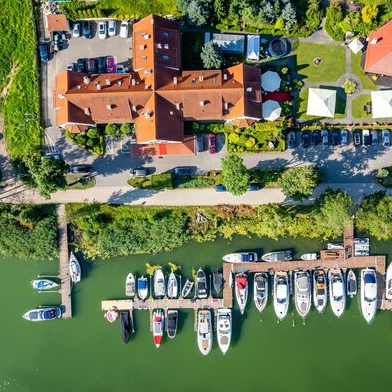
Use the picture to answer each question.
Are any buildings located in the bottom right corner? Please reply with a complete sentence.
No, no building can be made out in the bottom right corner.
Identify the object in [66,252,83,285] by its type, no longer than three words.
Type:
boat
